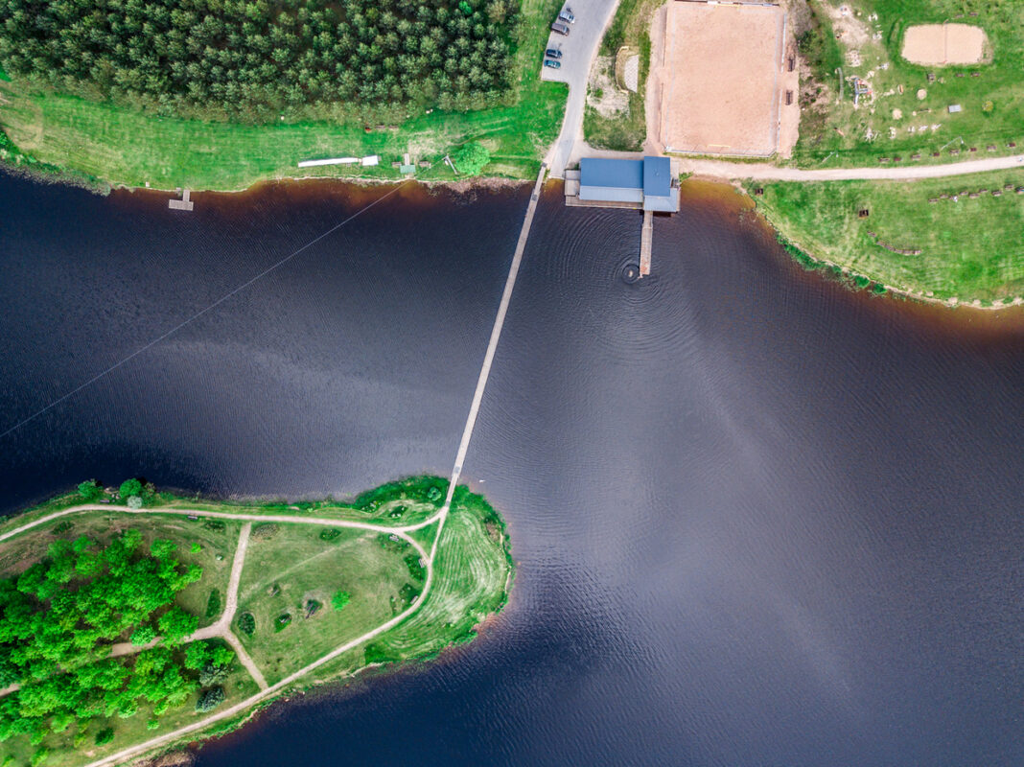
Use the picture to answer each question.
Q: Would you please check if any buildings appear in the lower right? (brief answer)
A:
No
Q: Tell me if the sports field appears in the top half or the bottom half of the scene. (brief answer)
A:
top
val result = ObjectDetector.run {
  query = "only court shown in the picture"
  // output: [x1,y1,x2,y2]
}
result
[902,21,988,66]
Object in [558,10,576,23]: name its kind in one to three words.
vehicle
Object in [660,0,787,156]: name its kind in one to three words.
sports field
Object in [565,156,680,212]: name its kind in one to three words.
building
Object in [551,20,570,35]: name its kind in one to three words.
car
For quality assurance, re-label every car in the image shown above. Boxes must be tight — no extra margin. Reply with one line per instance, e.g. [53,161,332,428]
[558,10,576,23]
[546,48,563,58]
[544,58,561,68]
[551,20,570,35]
